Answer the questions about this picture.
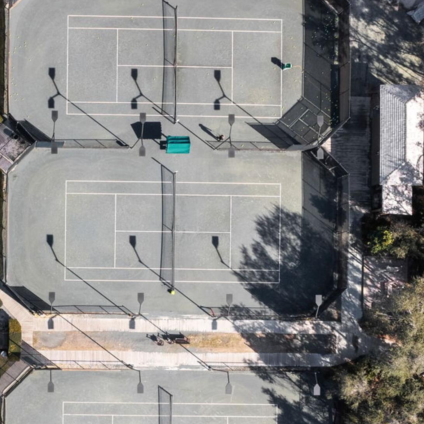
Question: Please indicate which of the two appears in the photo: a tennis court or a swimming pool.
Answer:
tennis court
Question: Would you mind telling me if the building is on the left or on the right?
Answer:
right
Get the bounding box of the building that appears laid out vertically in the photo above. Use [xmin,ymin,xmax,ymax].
[368,85,424,215]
